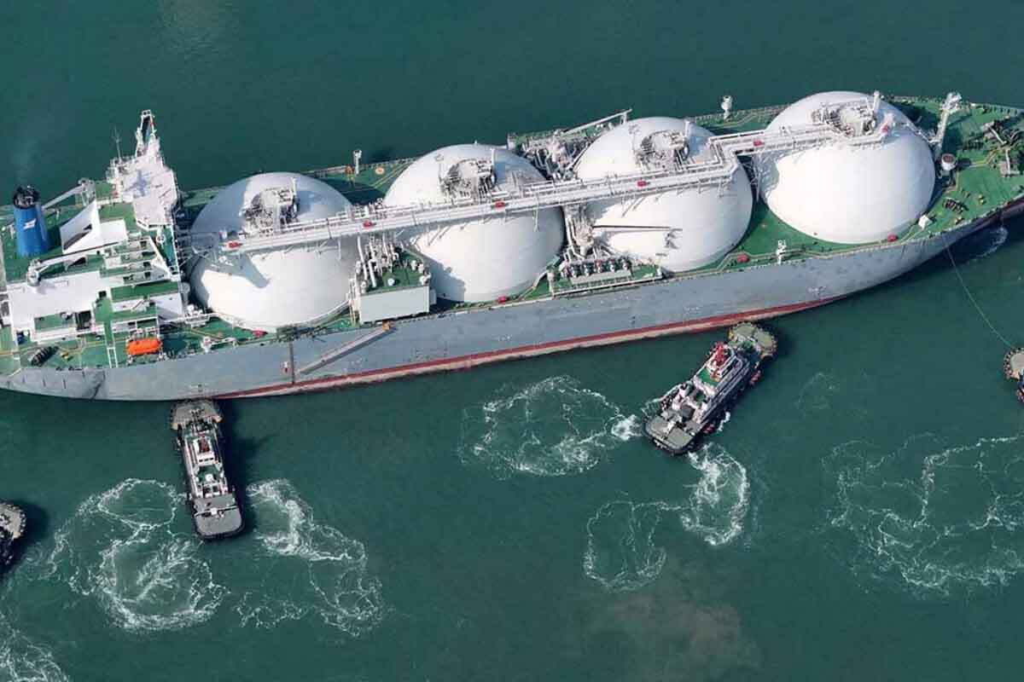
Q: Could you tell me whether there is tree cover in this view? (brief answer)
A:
No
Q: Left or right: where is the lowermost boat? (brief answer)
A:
left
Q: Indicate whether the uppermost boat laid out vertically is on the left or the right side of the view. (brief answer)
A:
right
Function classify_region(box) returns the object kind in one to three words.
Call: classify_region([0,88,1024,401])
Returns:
ship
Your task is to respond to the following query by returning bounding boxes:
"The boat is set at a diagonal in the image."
[642,315,775,458]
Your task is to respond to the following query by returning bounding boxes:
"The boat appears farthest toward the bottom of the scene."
[0,501,33,580]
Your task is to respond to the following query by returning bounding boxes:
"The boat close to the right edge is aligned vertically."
[1001,345,1024,398]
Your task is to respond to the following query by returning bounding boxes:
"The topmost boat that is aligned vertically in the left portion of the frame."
[170,396,246,540]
